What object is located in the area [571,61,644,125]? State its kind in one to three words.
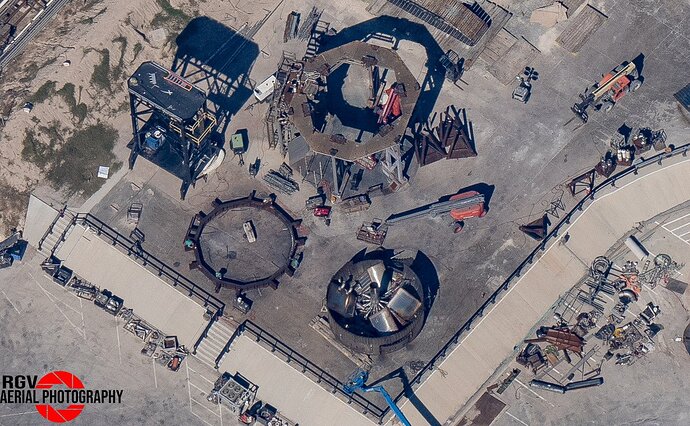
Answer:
work vehicle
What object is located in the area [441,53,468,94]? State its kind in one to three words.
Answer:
work vehicle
